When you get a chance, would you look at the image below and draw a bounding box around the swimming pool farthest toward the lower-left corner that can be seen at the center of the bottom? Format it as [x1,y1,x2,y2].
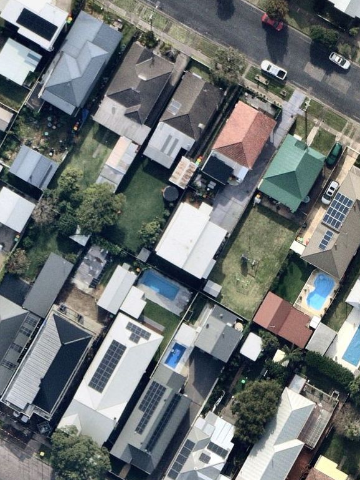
[164,343,189,370]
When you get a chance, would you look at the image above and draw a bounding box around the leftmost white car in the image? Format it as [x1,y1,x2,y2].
[261,61,286,80]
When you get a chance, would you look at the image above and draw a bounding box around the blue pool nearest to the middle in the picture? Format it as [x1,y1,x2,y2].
[139,267,182,303]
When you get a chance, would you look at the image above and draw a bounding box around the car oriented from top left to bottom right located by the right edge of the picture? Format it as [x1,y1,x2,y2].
[328,52,352,70]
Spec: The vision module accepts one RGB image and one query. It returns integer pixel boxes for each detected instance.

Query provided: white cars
[321,180,339,205]
[328,52,352,70]
[261,61,286,80]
